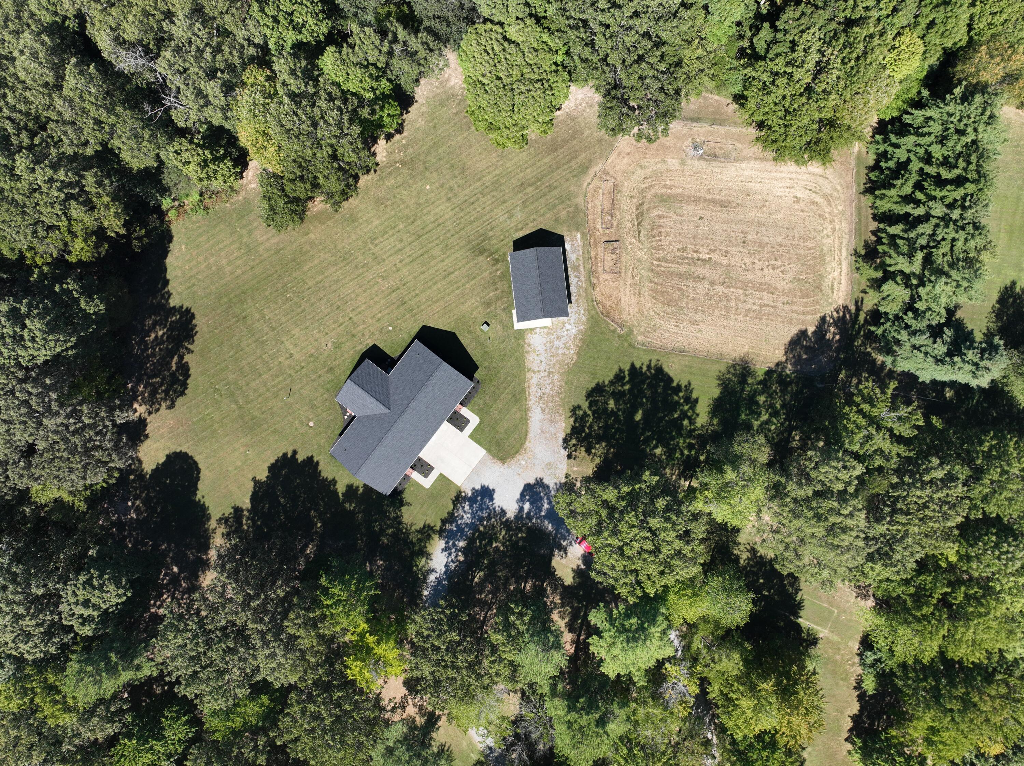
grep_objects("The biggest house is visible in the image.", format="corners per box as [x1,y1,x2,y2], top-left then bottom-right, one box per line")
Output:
[330,339,474,497]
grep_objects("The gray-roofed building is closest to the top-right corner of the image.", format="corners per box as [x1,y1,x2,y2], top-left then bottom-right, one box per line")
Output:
[508,246,570,323]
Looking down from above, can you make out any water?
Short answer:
No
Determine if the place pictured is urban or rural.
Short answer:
rural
